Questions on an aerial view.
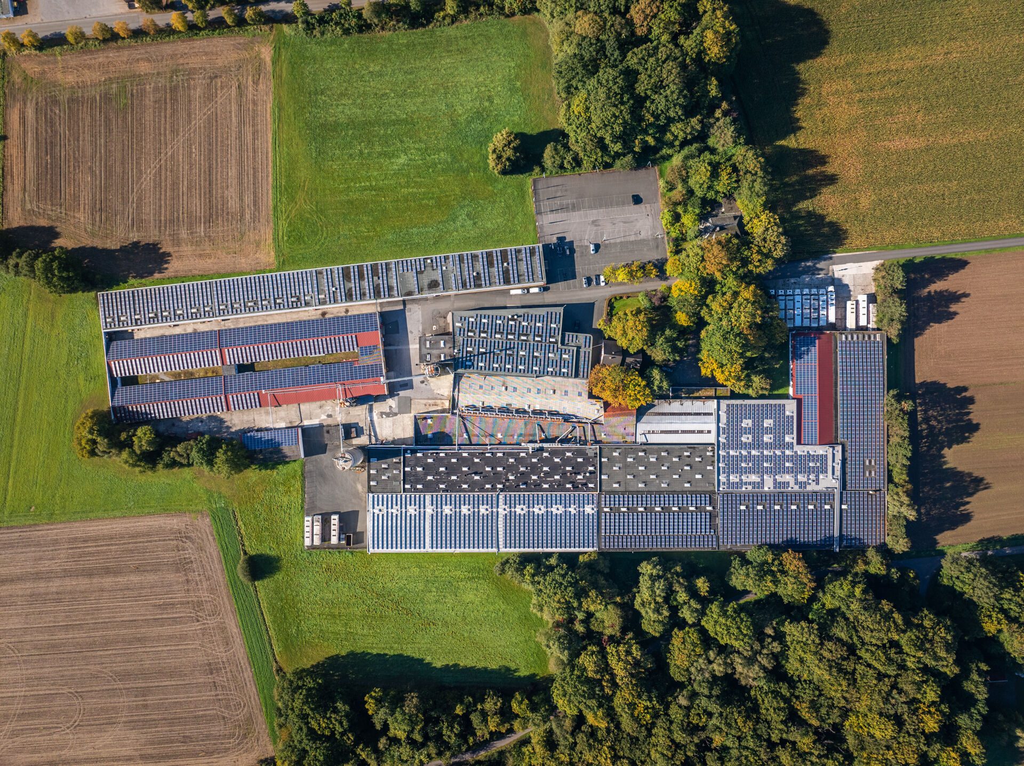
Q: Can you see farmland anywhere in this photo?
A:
Yes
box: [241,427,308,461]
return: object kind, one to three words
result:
shed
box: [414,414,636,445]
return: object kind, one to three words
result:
building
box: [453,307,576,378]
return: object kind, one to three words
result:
building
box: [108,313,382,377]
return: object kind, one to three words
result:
shed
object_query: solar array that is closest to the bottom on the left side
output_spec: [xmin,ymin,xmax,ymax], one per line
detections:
[243,429,298,449]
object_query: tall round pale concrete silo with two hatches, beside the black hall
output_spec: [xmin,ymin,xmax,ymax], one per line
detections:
[332,449,363,472]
